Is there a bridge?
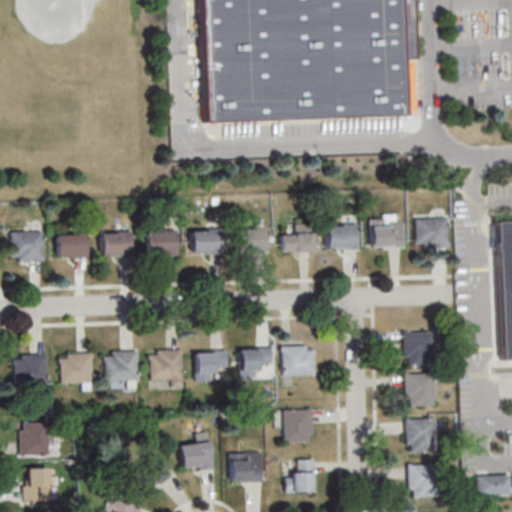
No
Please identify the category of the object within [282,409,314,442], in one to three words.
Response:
house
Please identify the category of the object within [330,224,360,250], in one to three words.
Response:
house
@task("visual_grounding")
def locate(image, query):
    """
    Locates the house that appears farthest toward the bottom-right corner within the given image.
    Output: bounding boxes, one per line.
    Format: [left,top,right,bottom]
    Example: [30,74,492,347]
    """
[477,474,512,501]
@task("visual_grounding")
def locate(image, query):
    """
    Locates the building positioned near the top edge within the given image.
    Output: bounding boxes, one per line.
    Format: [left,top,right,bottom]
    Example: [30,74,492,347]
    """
[202,0,423,122]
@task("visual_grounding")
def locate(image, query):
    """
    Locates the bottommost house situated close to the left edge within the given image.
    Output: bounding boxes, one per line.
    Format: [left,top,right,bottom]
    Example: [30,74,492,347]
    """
[23,468,55,504]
